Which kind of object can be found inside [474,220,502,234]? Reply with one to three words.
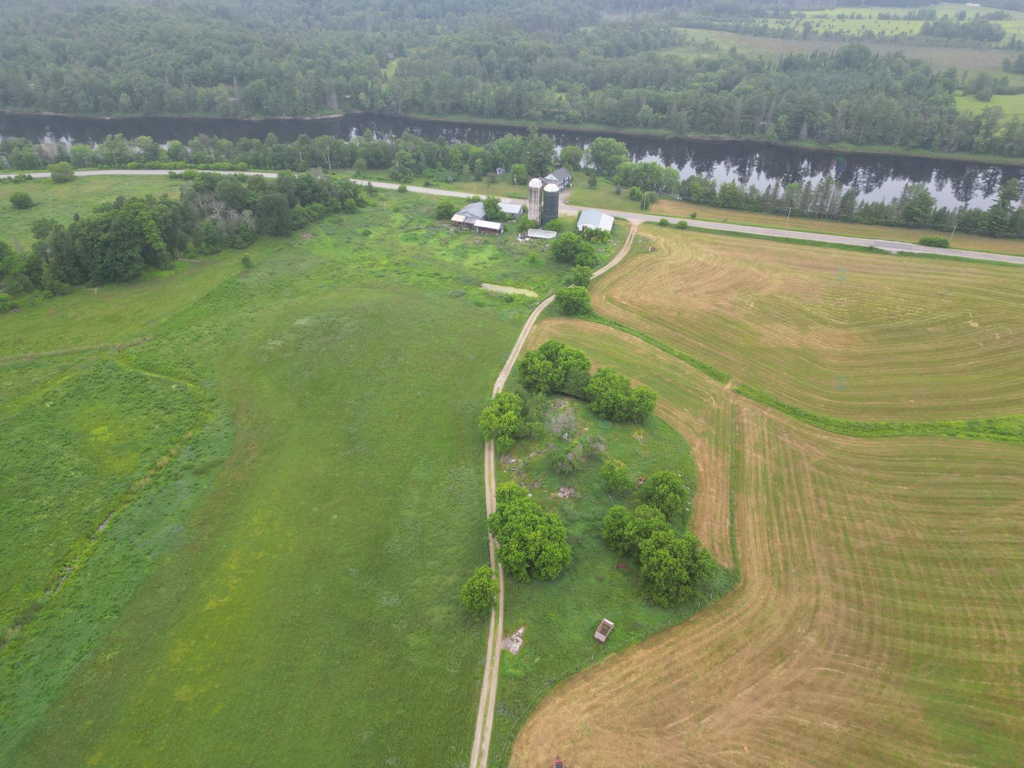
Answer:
shed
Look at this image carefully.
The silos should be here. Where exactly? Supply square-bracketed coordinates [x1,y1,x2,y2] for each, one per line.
[543,187,559,226]
[529,178,543,226]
